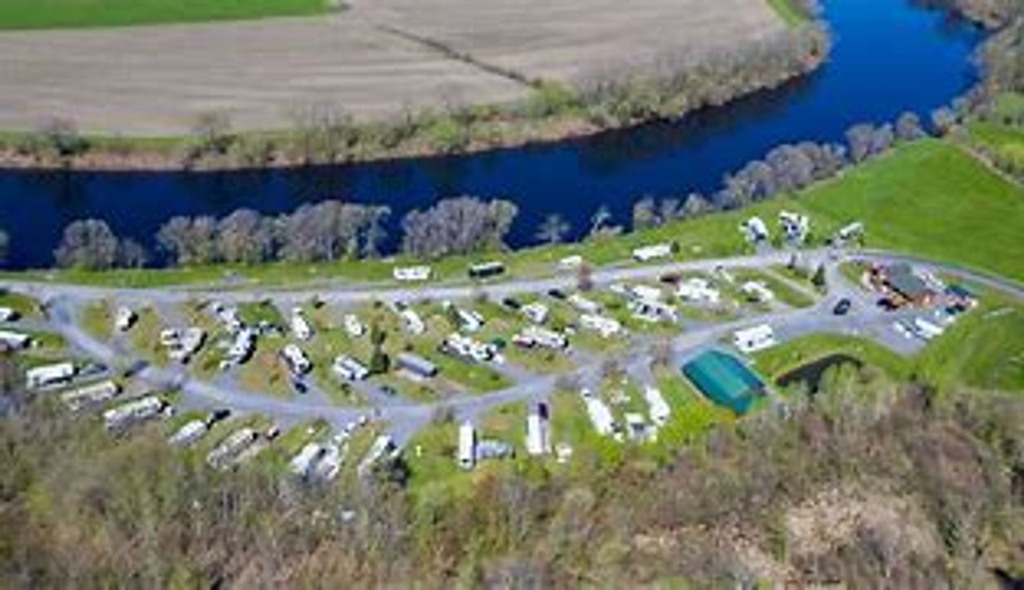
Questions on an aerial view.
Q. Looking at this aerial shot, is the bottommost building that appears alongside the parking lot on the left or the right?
right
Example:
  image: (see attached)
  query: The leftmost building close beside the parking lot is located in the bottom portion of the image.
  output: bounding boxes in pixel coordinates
[679,349,772,412]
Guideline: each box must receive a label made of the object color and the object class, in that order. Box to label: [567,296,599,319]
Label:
white camper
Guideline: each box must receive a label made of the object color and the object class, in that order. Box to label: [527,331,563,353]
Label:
white vehicle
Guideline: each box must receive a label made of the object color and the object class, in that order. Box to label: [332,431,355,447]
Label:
white car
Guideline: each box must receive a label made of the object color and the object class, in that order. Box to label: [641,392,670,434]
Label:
white vehicle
